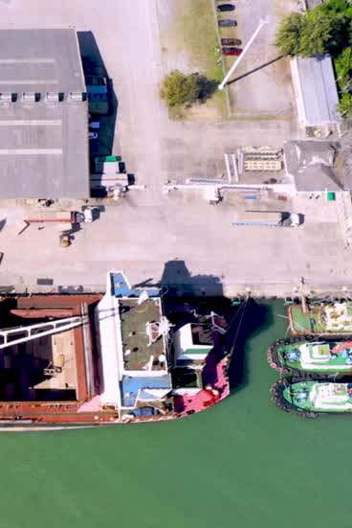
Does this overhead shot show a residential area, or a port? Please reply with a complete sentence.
The area seen from above is a port.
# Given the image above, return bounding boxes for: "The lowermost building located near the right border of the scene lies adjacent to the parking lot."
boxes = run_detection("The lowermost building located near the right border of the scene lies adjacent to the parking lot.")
[281,140,351,196]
